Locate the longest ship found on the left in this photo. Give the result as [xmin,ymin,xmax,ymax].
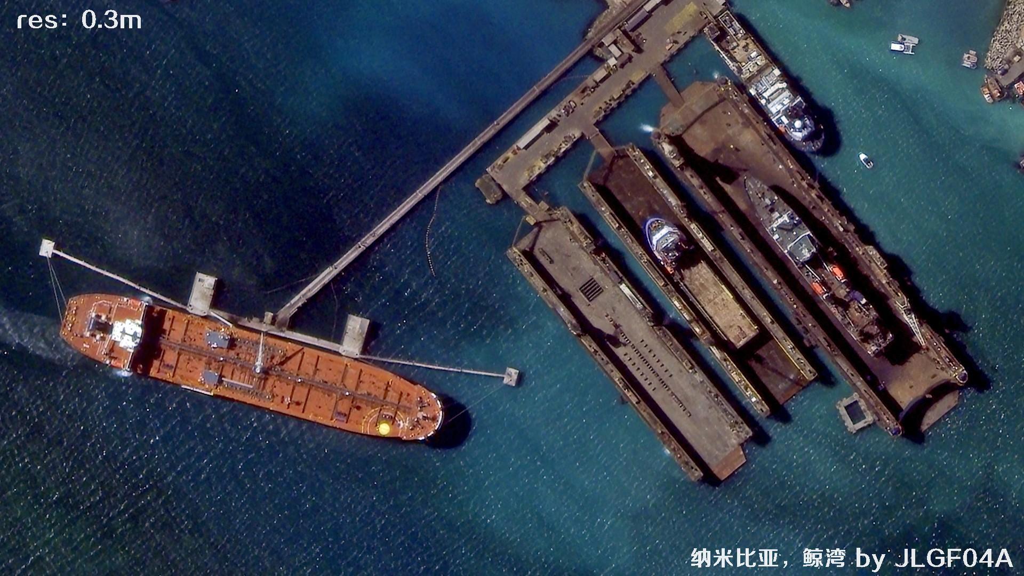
[60,293,443,441]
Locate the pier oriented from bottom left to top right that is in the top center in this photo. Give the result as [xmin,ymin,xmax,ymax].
[485,0,727,223]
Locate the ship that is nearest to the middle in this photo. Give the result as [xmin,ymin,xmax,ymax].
[474,173,503,204]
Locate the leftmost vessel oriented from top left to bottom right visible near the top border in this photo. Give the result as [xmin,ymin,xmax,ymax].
[703,11,823,151]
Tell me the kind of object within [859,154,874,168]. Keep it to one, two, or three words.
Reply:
boat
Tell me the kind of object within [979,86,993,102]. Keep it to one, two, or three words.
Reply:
boat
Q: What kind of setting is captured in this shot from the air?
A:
port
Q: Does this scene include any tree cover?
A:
No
